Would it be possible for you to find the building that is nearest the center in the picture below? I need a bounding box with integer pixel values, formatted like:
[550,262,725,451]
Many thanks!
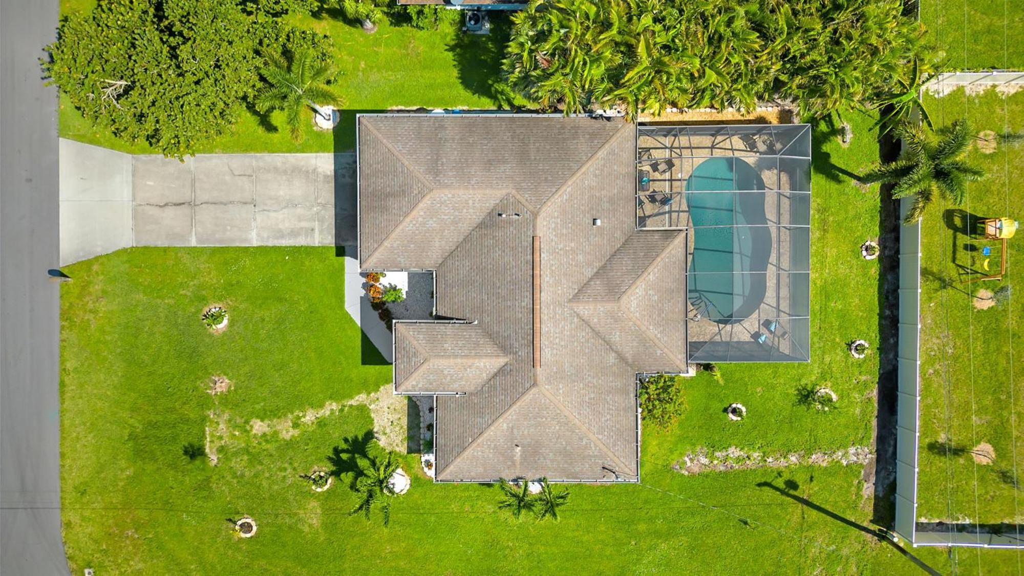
[355,111,688,484]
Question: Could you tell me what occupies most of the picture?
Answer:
grass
